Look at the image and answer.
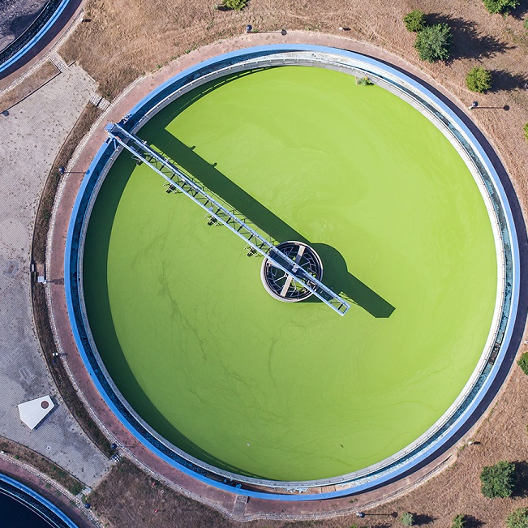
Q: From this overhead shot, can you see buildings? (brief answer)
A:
No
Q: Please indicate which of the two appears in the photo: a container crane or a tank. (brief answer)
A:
tank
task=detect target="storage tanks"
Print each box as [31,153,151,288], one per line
[0,0,71,74]
[0,473,79,528]
[65,44,521,501]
